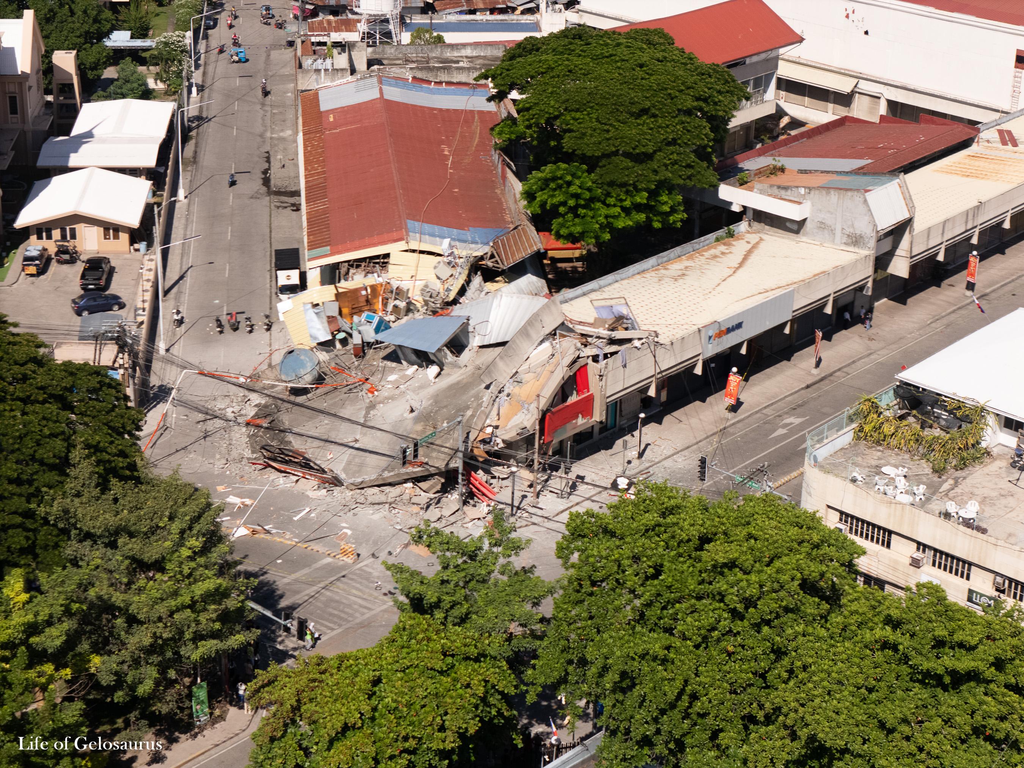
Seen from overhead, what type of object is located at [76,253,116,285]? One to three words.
truck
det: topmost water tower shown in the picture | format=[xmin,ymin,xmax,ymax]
[349,0,410,47]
